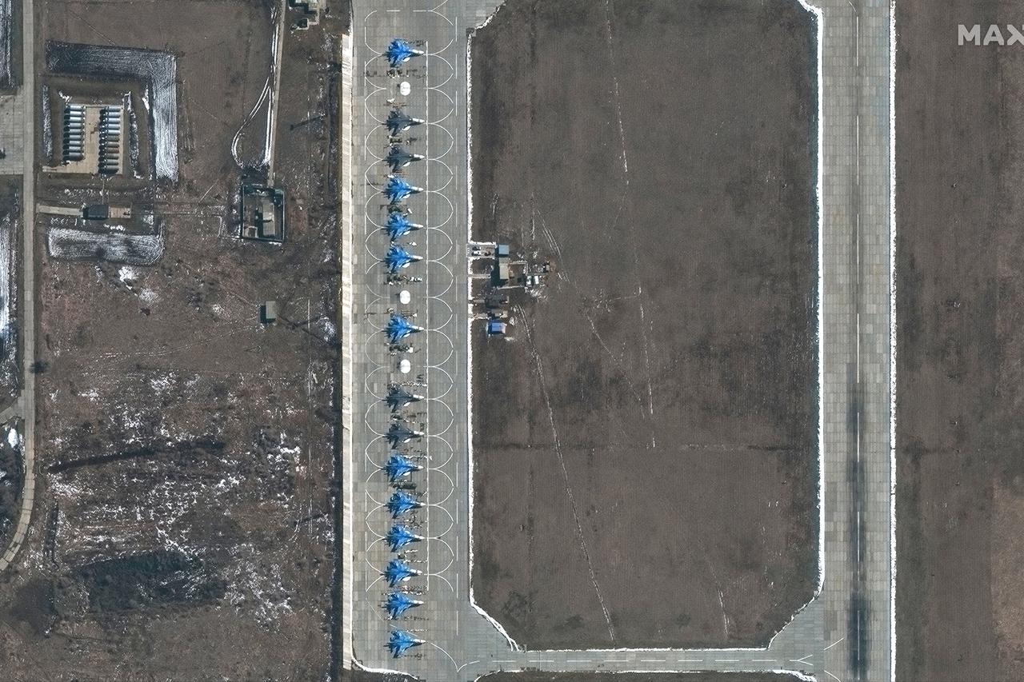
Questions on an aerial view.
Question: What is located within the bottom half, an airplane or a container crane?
airplane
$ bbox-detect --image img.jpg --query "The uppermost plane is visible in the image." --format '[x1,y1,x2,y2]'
[385,40,424,64]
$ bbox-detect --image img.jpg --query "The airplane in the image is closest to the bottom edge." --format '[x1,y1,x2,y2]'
[387,629,426,654]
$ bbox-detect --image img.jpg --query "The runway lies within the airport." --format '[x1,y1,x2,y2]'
[802,0,892,682]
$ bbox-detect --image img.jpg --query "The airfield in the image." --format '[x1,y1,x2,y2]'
[352,0,892,682]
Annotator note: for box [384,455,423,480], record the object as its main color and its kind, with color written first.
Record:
blue airplane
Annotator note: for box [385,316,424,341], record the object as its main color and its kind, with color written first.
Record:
blue airplane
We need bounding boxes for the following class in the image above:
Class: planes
[385,40,424,64]
[385,385,424,409]
[386,109,425,133]
[384,246,423,270]
[386,145,425,169]
[385,525,425,550]
[384,455,423,480]
[384,177,423,201]
[385,214,423,239]
[385,421,424,446]
[384,590,423,615]
[387,629,426,654]
[383,560,422,585]
[387,492,426,517]
[385,316,424,341]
